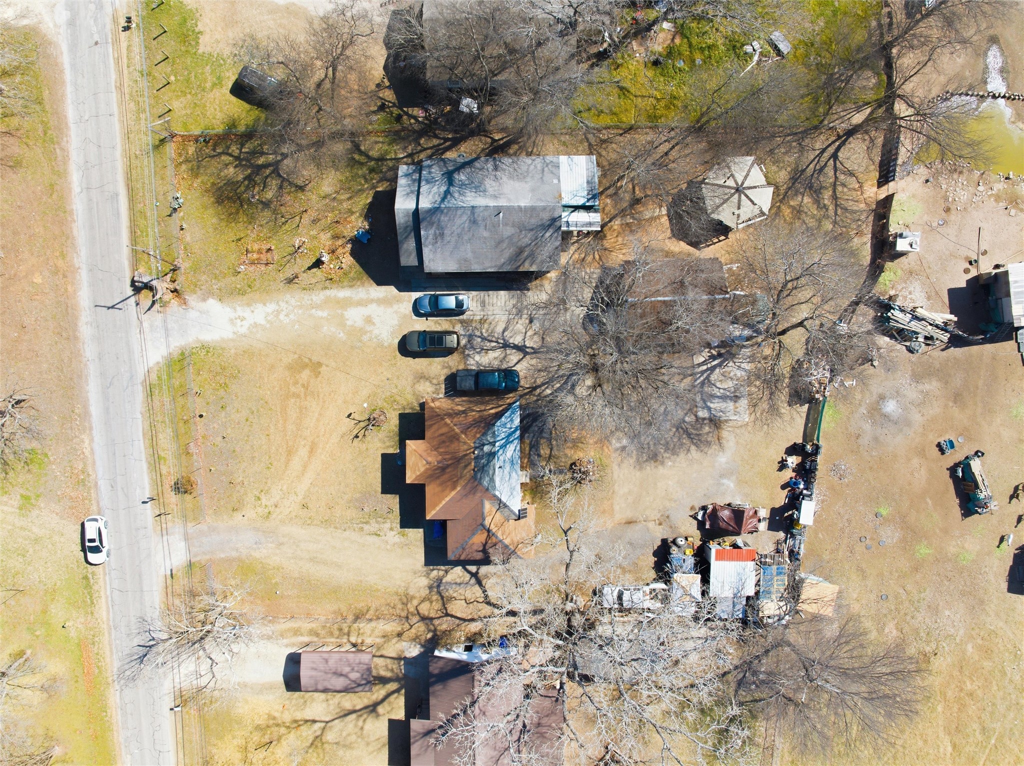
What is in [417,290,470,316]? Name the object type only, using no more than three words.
car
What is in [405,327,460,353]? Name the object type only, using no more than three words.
car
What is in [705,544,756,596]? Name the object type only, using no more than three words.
shed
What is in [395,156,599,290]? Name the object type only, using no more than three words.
house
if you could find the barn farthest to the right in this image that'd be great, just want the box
[950,262,1024,329]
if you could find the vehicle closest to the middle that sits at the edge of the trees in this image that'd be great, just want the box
[456,366,520,394]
